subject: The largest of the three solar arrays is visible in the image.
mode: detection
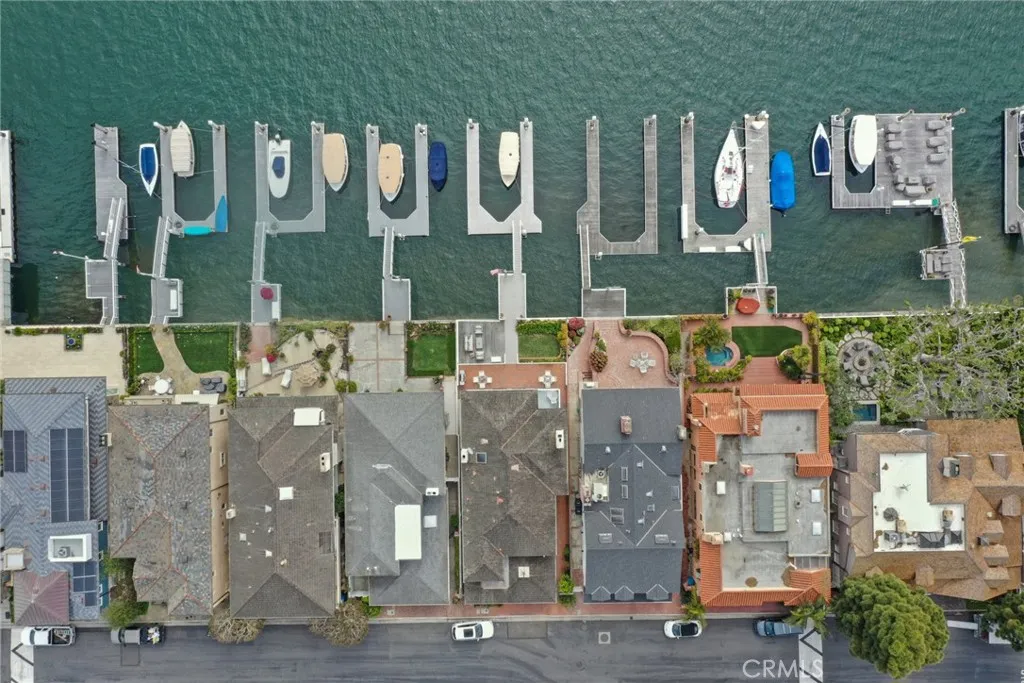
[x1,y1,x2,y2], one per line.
[51,429,84,522]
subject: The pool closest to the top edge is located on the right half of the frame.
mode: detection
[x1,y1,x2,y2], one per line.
[705,342,737,369]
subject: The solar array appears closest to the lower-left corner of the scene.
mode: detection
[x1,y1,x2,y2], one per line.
[73,562,97,606]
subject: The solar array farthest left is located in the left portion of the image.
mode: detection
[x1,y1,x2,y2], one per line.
[3,431,26,472]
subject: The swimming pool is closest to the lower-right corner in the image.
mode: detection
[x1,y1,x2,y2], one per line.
[852,403,878,424]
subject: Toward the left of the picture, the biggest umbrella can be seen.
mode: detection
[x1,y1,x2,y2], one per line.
[297,364,320,387]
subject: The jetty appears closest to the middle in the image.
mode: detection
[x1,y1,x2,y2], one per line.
[498,273,526,320]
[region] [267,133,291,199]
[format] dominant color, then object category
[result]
white boat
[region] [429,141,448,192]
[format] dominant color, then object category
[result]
blue boat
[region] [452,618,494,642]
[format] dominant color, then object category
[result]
white car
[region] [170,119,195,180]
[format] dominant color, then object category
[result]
white boat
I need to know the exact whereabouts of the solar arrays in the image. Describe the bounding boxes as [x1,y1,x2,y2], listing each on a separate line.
[73,562,97,606]
[51,429,84,522]
[3,431,26,472]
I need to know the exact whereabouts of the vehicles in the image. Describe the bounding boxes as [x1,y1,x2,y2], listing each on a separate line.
[452,618,494,642]
[113,623,167,648]
[23,623,78,648]
[753,614,801,638]
[663,617,701,640]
